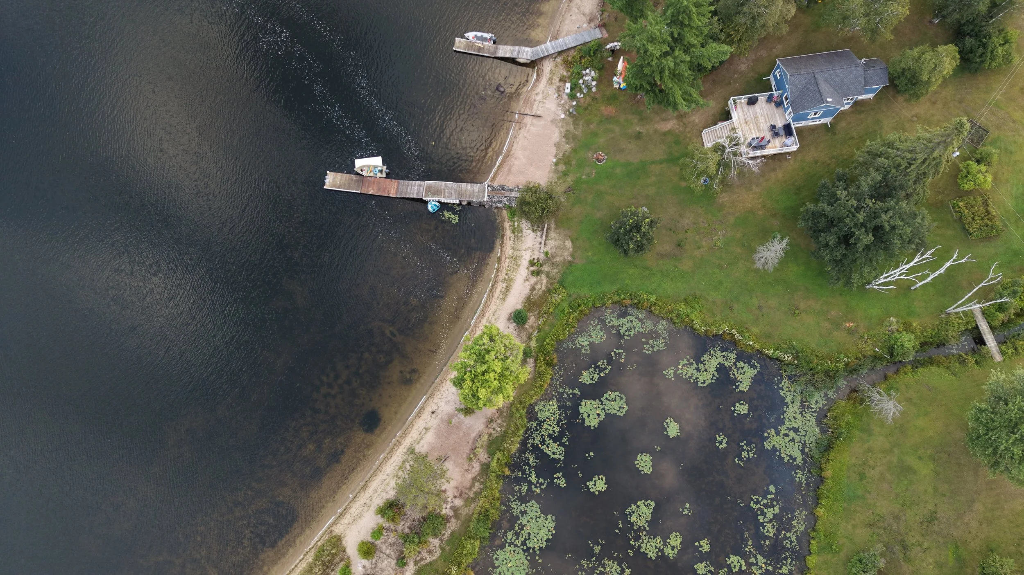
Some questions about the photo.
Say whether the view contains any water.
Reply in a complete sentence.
Yes, water can be seen from above here.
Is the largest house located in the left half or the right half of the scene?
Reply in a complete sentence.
You can find the largest house on the right side of the picture.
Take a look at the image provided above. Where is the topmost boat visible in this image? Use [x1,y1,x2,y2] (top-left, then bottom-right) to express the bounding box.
[465,31,497,43]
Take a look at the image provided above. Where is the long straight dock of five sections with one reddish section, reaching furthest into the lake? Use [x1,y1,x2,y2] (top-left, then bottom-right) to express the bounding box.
[323,169,488,202]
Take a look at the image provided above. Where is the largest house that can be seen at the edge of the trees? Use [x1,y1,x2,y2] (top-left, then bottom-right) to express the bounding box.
[766,48,890,123]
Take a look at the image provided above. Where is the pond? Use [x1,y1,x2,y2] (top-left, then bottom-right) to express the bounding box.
[478,311,1001,575]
